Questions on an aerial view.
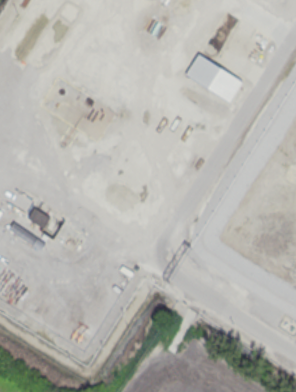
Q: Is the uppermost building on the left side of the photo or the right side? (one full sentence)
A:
It is on the right.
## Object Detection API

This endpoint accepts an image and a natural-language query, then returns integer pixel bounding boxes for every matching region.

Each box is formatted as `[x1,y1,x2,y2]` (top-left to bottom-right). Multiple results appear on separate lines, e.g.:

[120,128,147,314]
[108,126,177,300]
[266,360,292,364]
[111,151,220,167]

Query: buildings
[186,54,242,101]
[26,206,50,227]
